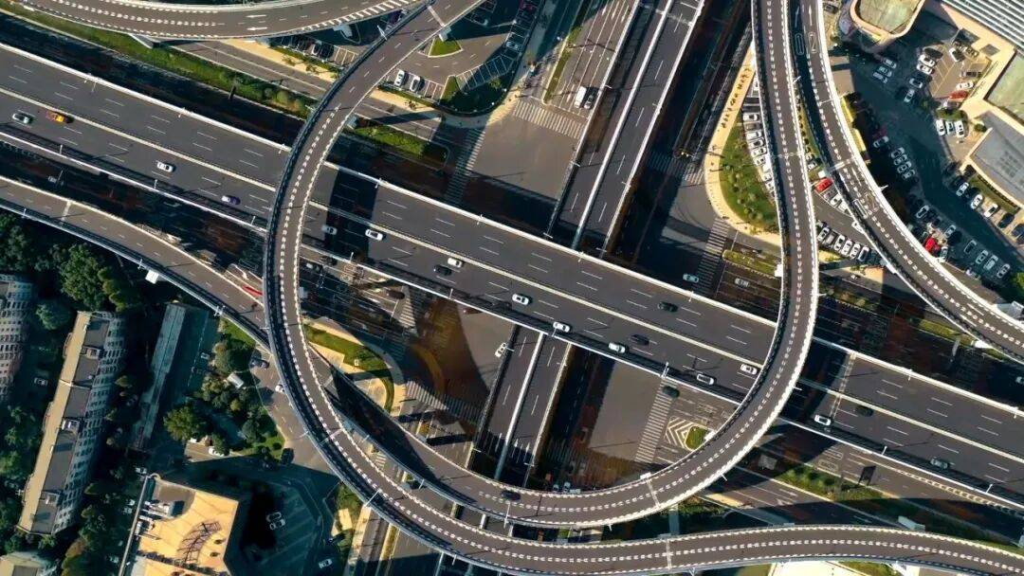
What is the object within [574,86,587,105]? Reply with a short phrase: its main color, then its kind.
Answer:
white vehicle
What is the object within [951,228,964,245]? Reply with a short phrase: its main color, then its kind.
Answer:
black vehicle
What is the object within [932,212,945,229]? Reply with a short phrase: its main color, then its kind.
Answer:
black vehicle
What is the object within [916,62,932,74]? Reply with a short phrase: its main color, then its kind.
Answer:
white vehicle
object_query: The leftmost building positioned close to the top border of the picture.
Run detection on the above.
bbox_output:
[831,0,924,52]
